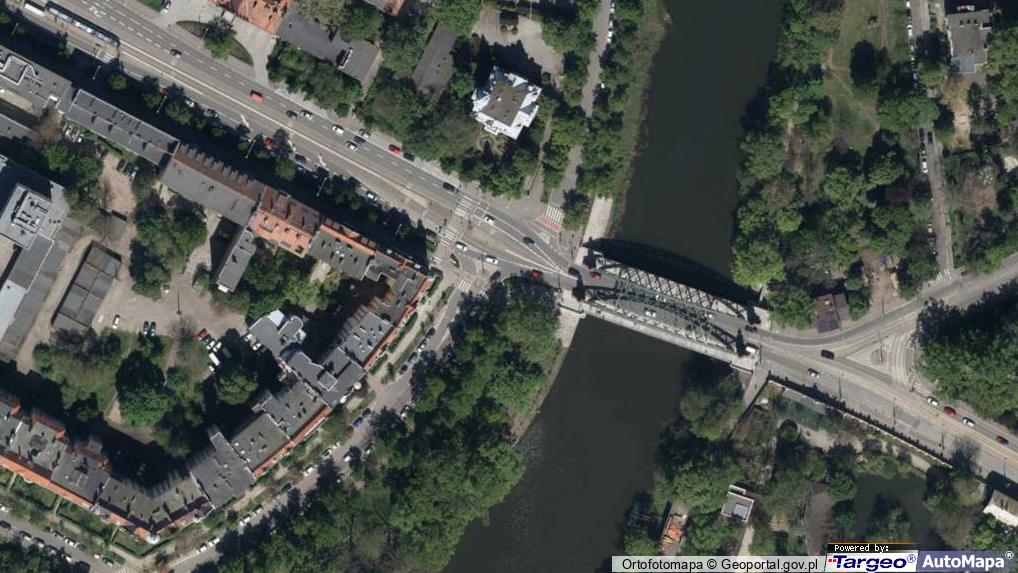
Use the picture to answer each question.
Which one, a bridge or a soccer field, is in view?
bridge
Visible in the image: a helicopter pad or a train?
train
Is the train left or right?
left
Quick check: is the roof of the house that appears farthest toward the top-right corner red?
No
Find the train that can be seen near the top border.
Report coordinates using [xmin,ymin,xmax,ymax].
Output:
[44,1,117,44]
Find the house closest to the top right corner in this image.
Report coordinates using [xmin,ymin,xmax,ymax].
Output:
[944,5,991,74]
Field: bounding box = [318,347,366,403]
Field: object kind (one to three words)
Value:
house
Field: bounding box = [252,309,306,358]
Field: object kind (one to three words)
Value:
building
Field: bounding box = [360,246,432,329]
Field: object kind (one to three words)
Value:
house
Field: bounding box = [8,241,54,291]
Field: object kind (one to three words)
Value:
building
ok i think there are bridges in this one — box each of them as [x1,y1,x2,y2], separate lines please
[570,258,761,365]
